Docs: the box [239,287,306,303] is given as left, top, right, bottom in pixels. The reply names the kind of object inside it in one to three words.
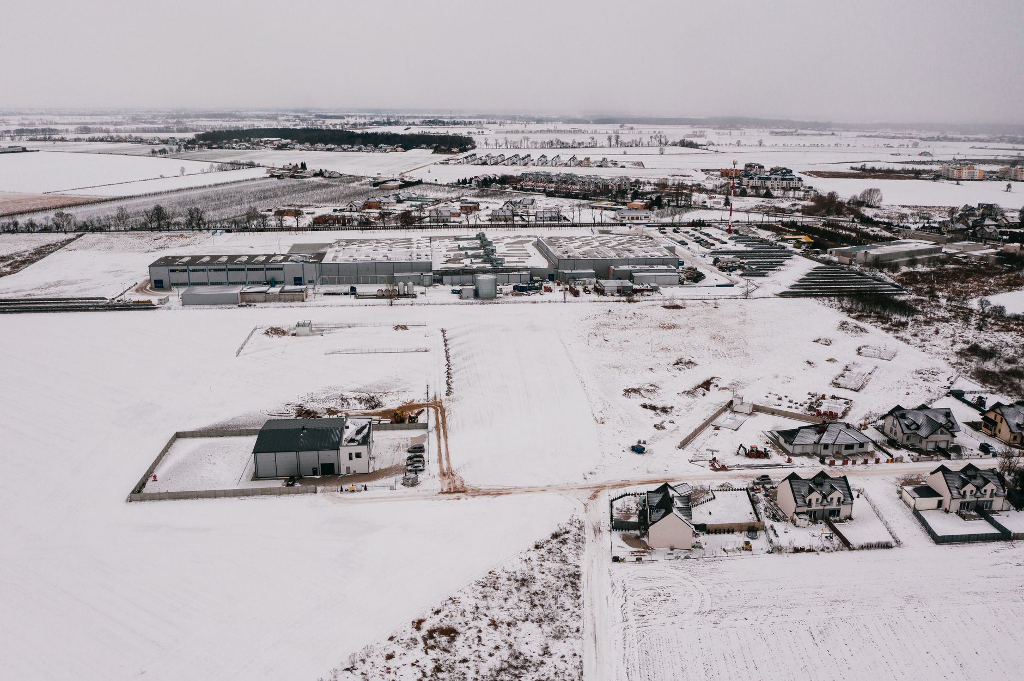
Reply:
building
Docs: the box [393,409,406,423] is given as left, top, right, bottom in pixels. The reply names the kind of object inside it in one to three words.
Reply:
vehicle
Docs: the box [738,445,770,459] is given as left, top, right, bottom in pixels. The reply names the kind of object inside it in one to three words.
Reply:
work vehicle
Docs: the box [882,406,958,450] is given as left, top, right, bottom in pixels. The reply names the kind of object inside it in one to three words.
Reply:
house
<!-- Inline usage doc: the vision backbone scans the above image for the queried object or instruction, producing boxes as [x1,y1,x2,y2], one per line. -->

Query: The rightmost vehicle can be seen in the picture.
[978,441,1000,454]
